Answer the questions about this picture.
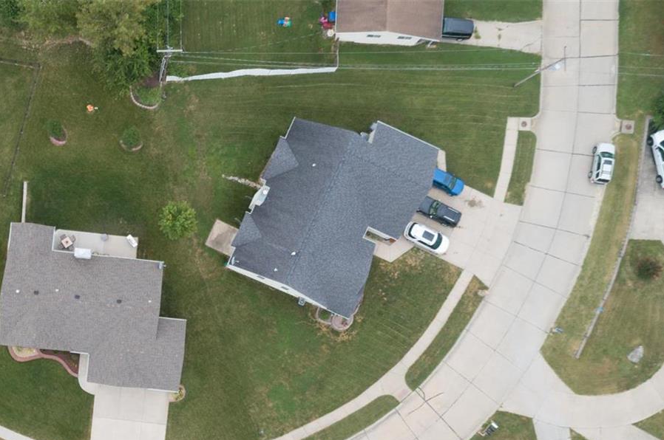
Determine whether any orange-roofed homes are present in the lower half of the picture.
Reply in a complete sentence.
No, there's no orange-roofed home to be seen in the lower half of the picture.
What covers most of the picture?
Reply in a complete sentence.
The scene is dominated by grass.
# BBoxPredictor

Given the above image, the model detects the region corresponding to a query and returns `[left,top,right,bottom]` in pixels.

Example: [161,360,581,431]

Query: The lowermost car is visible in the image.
[402,223,449,254]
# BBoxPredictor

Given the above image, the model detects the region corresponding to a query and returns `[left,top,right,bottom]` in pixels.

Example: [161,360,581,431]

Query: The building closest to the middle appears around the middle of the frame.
[227,117,440,319]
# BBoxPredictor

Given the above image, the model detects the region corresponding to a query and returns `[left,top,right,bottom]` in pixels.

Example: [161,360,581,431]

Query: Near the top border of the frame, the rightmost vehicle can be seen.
[440,17,476,40]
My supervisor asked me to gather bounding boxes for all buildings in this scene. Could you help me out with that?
[333,0,442,49]
[0,221,187,393]
[227,117,440,319]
